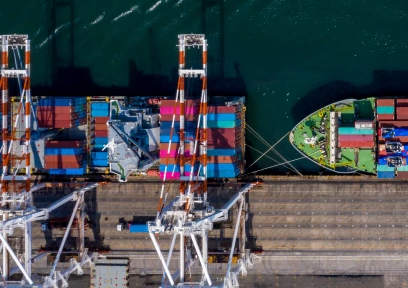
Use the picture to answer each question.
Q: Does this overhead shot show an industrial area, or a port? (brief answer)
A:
port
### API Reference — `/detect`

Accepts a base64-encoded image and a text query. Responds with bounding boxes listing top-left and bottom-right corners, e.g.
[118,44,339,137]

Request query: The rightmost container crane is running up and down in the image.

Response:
[147,31,263,288]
